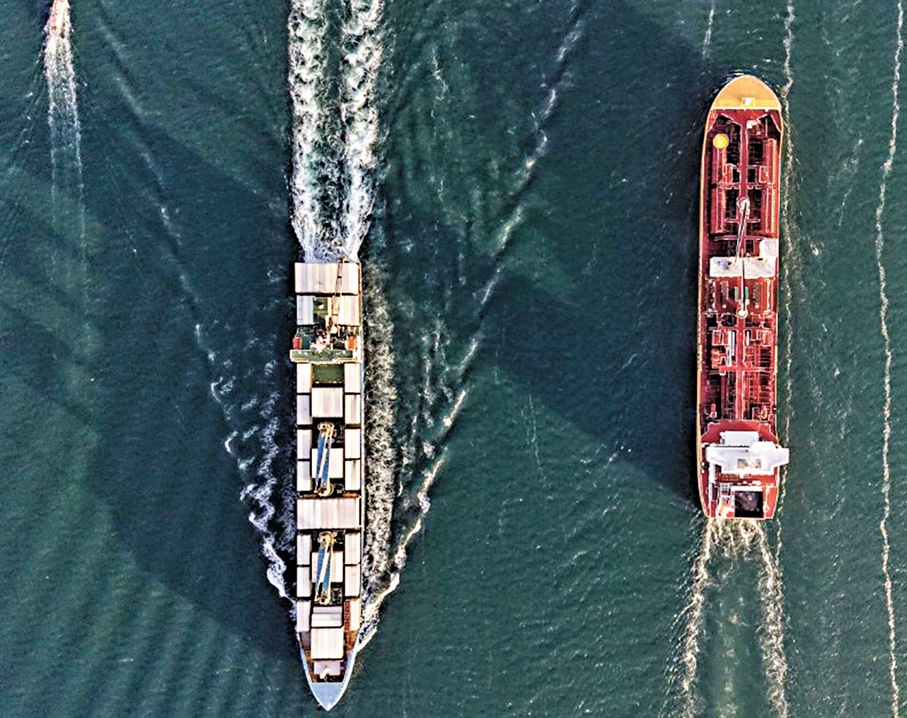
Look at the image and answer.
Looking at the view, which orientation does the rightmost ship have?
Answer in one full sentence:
The rightmost ship is laid out vertically.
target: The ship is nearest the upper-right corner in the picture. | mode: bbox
[697,74,789,518]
